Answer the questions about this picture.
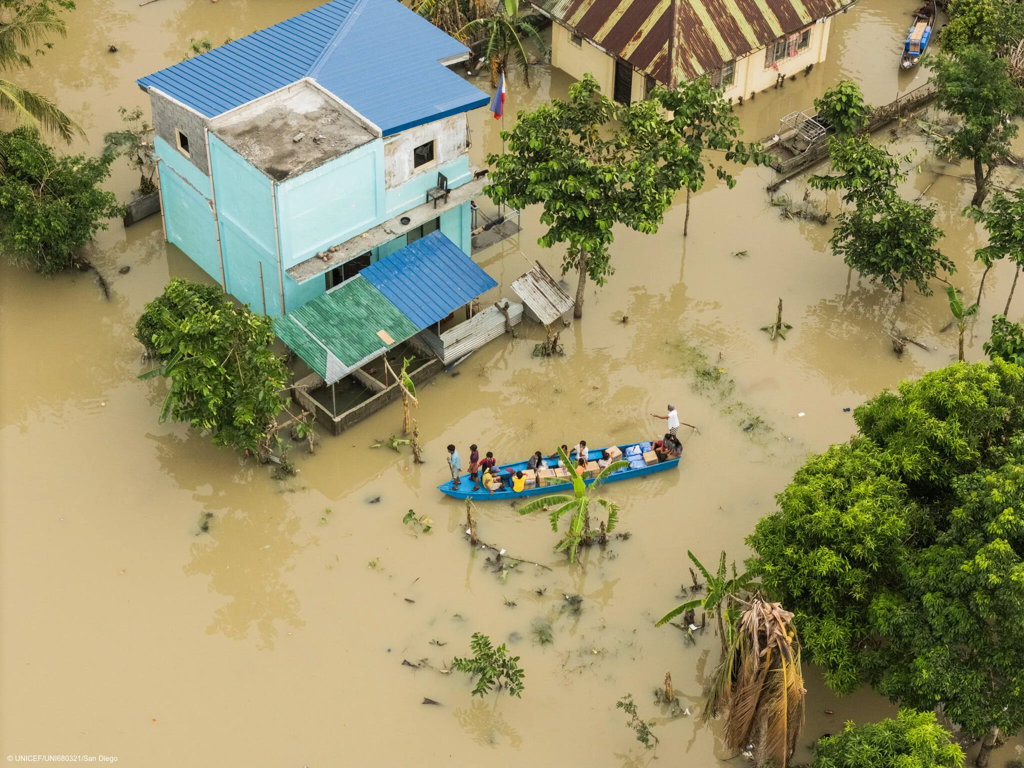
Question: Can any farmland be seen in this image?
No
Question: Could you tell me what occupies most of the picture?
water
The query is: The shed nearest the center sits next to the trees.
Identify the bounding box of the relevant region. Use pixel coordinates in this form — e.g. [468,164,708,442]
[510,252,575,345]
